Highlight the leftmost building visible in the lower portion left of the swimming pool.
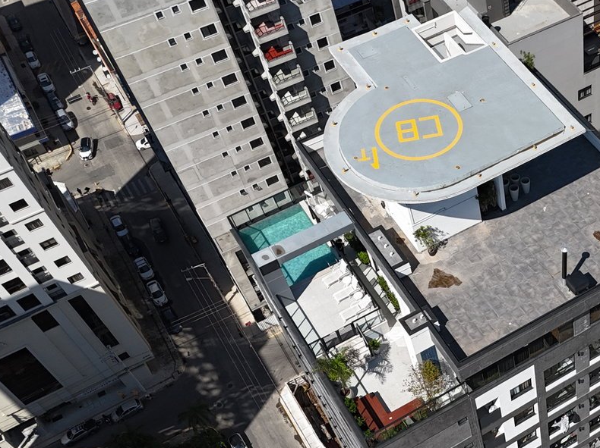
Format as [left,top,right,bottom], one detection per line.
[0,107,162,448]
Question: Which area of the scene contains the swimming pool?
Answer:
center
